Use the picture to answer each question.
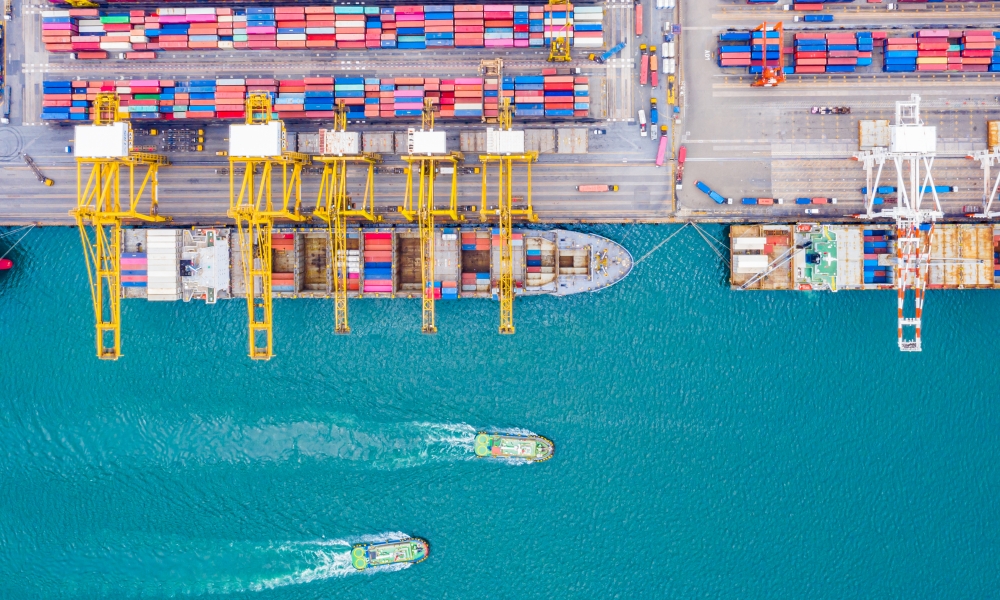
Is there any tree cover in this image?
No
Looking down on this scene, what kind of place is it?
port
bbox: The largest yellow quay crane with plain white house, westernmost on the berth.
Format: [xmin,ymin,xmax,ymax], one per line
[71,93,176,361]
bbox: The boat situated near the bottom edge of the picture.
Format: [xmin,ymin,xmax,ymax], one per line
[350,539,431,572]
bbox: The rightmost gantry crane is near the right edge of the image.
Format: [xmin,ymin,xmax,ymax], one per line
[964,148,1000,215]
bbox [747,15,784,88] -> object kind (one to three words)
container crane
